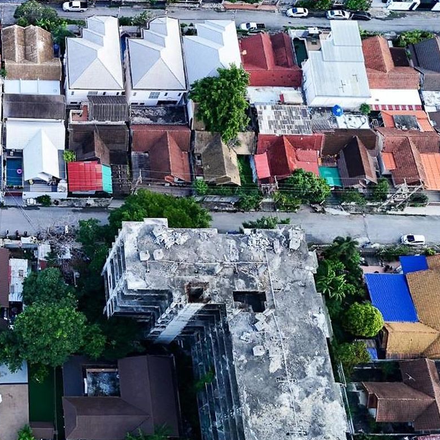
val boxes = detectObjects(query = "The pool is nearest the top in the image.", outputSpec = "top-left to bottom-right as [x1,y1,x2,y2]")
[294,36,308,65]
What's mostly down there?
buildings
